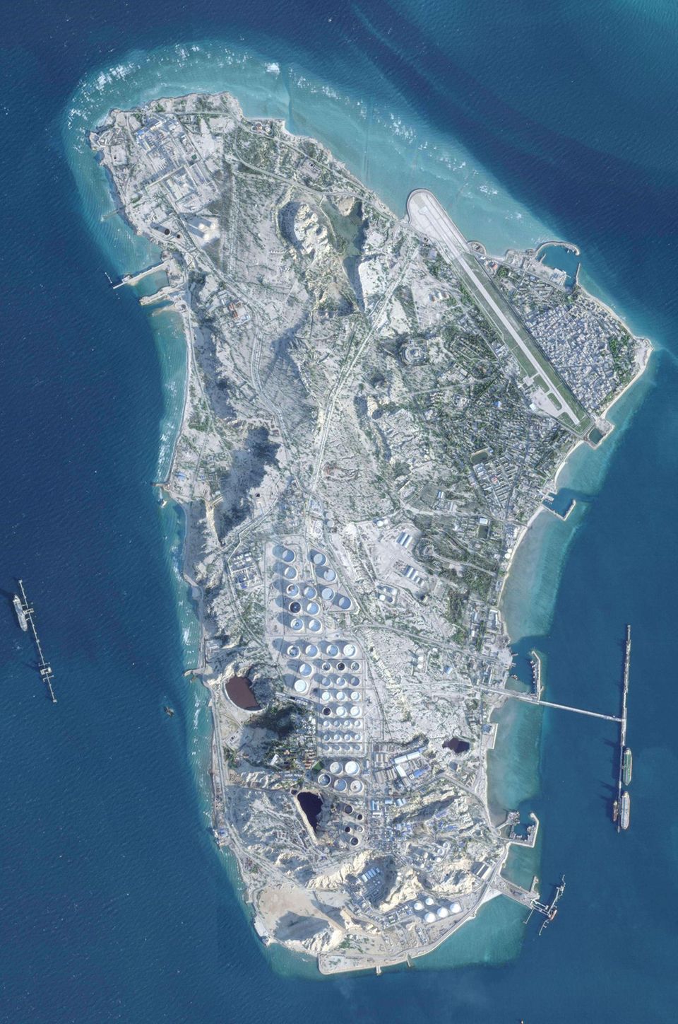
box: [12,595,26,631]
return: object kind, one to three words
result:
ship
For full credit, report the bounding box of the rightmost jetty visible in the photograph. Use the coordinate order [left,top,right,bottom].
[618,625,631,833]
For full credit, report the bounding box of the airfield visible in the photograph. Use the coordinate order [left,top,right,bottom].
[408,190,591,432]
